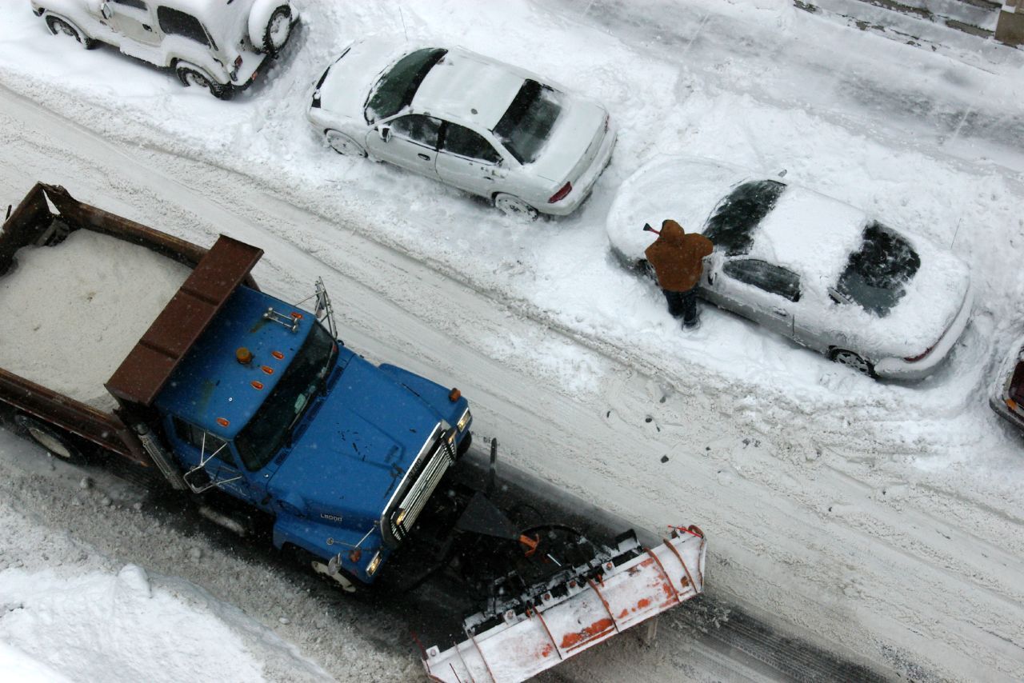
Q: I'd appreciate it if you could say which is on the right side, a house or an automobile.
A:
automobile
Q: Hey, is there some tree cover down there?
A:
No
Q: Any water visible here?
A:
No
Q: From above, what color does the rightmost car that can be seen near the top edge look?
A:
white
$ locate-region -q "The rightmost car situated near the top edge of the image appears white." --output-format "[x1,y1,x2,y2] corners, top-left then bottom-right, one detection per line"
[306,16,624,228]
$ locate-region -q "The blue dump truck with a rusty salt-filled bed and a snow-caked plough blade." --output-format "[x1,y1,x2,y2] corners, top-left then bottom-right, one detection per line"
[0,181,702,683]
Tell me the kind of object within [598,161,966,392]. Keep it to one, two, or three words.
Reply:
car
